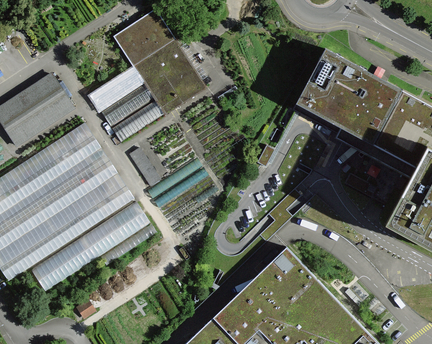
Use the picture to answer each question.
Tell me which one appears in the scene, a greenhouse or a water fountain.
greenhouse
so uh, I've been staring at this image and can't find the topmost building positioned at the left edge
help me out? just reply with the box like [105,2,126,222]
[0,72,74,145]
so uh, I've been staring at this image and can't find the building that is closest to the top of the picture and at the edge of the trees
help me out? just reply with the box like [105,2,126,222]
[114,12,175,65]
